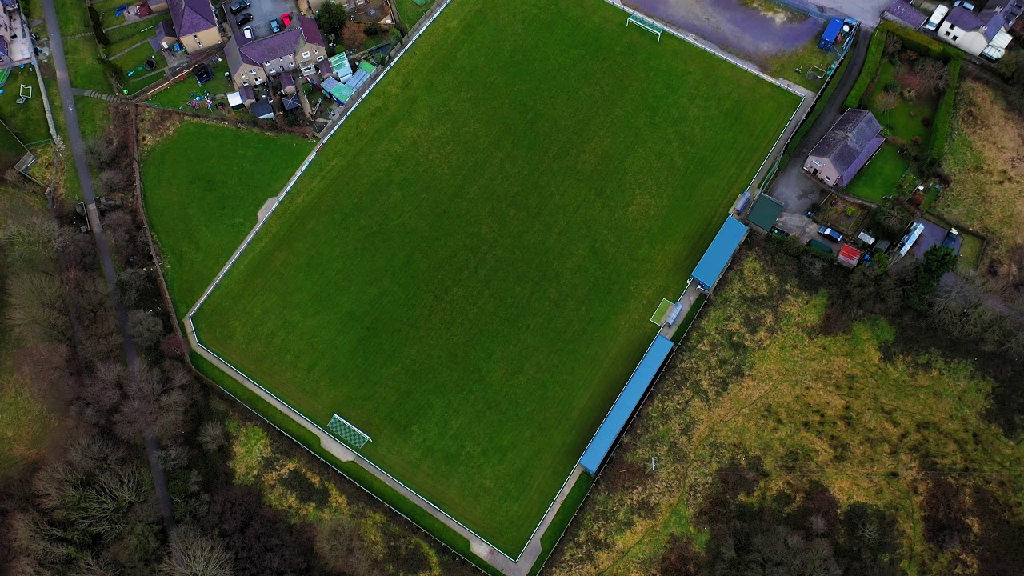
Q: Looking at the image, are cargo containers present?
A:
Yes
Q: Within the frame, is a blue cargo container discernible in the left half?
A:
No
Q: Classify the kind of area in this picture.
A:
sports ground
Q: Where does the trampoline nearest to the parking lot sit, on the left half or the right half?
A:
left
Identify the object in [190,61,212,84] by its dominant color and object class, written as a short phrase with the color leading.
black trampoline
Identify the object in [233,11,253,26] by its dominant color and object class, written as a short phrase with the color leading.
black car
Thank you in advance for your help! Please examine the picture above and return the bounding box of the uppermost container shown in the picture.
[818,18,845,51]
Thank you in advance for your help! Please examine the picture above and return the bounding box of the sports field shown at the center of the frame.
[191,0,800,559]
